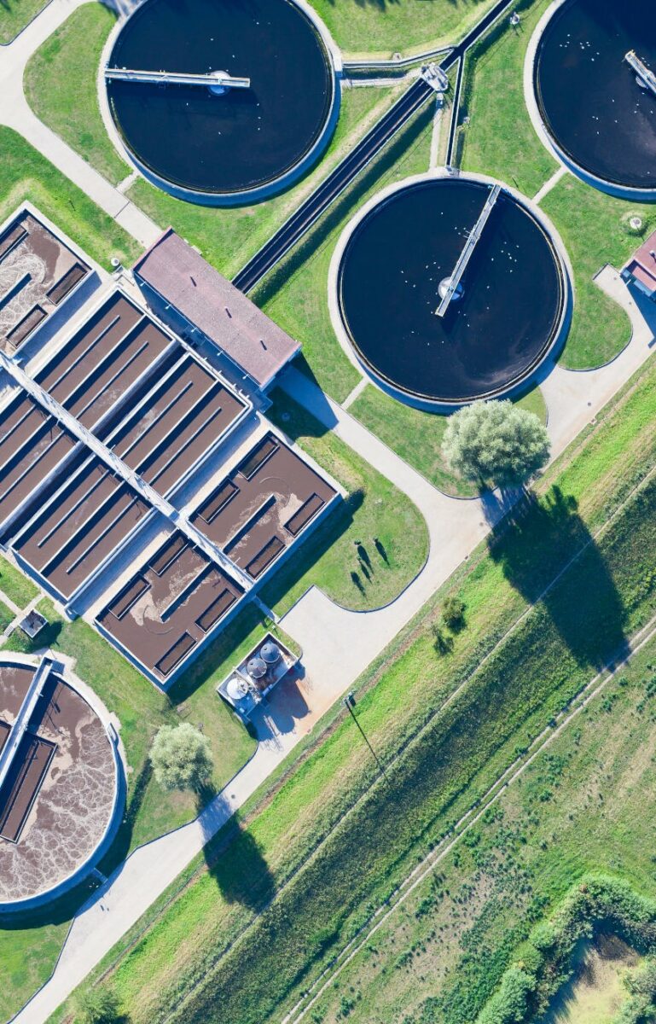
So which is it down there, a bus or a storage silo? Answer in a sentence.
Of the two, only a storage silo appears.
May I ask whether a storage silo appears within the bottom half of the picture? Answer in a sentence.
Yes, the scene does show a storage silo within the bottom half of the picture.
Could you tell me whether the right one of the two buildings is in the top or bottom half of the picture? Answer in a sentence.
The top half of the photo is where the right one of the two buildings is.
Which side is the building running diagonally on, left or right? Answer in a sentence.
You can find the building running diagonally on the left side of the picture.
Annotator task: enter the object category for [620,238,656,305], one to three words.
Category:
building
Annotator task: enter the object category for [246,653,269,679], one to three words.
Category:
silo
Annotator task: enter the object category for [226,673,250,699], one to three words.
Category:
silo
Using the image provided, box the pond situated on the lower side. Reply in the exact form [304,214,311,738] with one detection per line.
[540,927,633,1024]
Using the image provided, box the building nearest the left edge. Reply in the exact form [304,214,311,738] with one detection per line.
[133,226,302,390]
